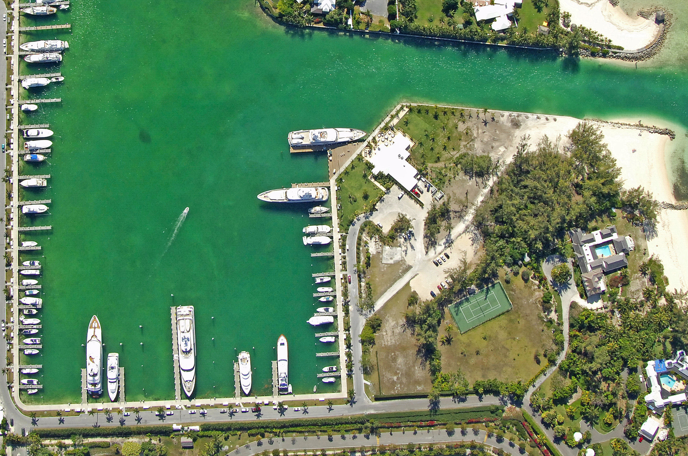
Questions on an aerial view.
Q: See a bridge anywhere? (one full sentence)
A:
No, the scene contains no bridge.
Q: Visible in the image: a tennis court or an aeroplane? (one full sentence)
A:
It is a tennis court that can be seen here.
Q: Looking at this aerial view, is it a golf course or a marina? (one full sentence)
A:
It's a marina.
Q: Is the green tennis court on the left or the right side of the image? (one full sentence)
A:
It is on the right.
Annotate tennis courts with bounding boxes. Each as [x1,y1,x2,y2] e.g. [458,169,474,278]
[670,406,688,434]
[448,282,514,333]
